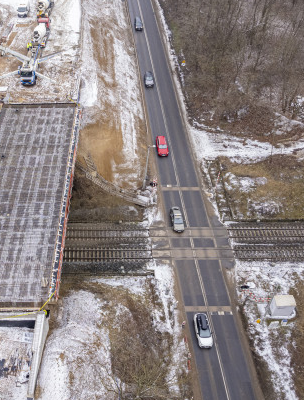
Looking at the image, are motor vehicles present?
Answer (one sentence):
Yes, there's a motor vehicle here.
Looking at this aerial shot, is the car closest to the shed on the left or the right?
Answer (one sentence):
The car closest to the shed sits on the right side.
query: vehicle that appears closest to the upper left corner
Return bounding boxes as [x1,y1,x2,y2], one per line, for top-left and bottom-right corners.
[14,0,27,17]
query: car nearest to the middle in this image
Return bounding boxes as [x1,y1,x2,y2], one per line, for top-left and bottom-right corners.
[168,203,185,228]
